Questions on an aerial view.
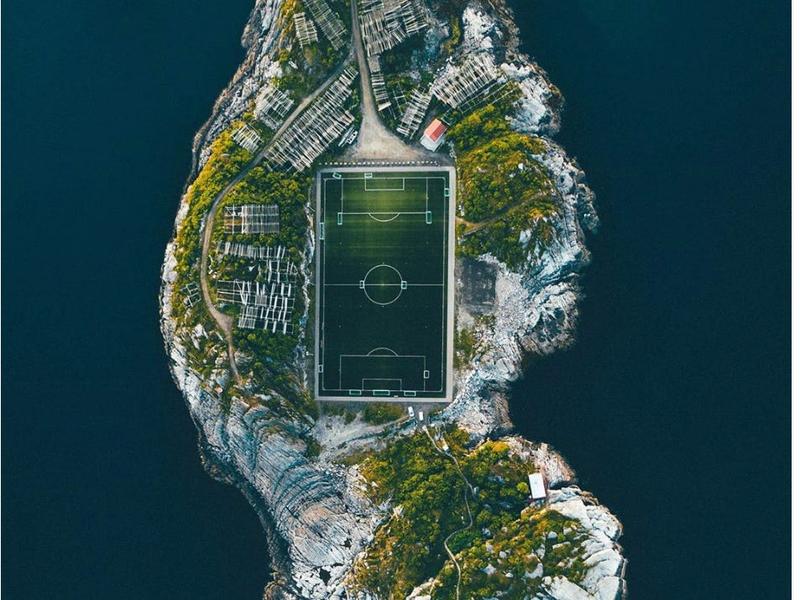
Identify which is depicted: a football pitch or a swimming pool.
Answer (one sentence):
This aerial view contains a football pitch.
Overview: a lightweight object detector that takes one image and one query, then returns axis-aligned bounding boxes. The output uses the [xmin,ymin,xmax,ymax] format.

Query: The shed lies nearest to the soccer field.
[421,116,448,145]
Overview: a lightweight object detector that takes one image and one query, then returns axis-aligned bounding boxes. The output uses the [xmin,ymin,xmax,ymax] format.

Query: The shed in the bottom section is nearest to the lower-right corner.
[530,473,550,501]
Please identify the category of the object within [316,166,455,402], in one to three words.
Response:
soccer field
